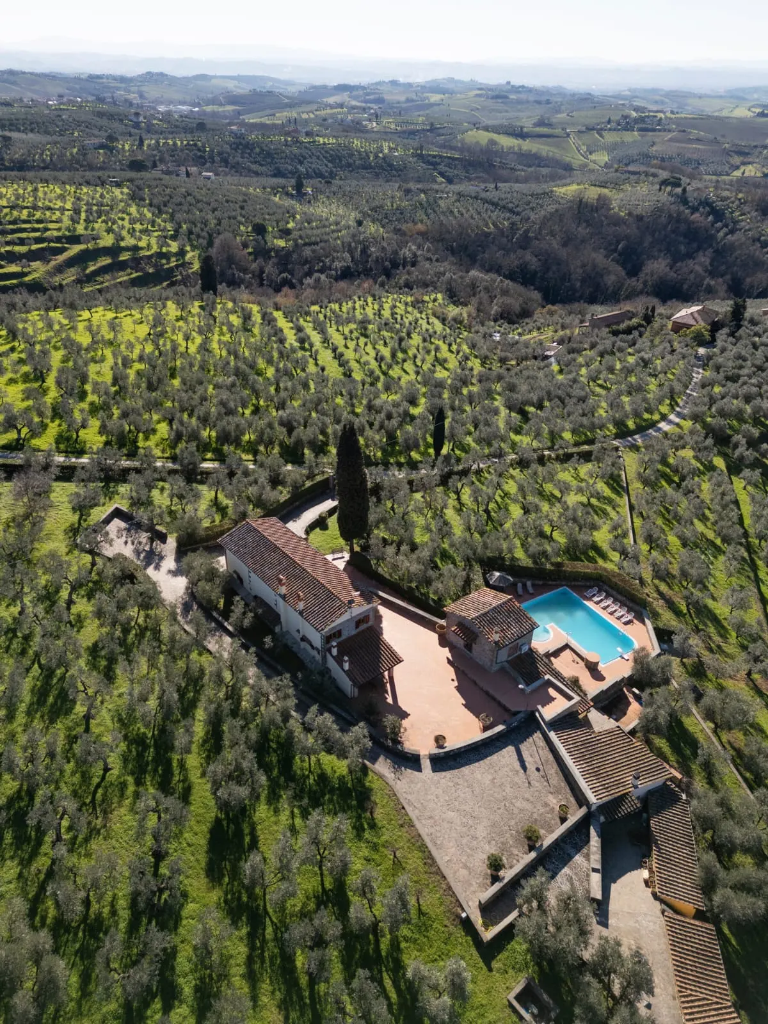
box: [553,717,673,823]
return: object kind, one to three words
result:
barn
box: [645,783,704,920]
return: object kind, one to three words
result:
shed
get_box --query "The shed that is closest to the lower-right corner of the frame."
[661,912,738,1024]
